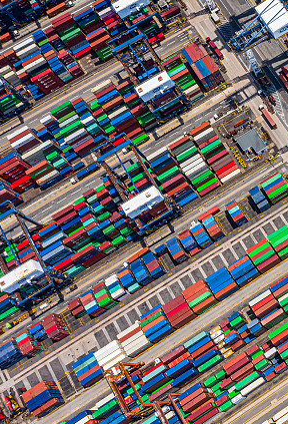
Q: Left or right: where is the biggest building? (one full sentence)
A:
You can find the biggest building on the right side of the picture.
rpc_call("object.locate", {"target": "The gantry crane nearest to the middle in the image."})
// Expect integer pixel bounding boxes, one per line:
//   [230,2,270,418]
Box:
[90,129,192,245]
